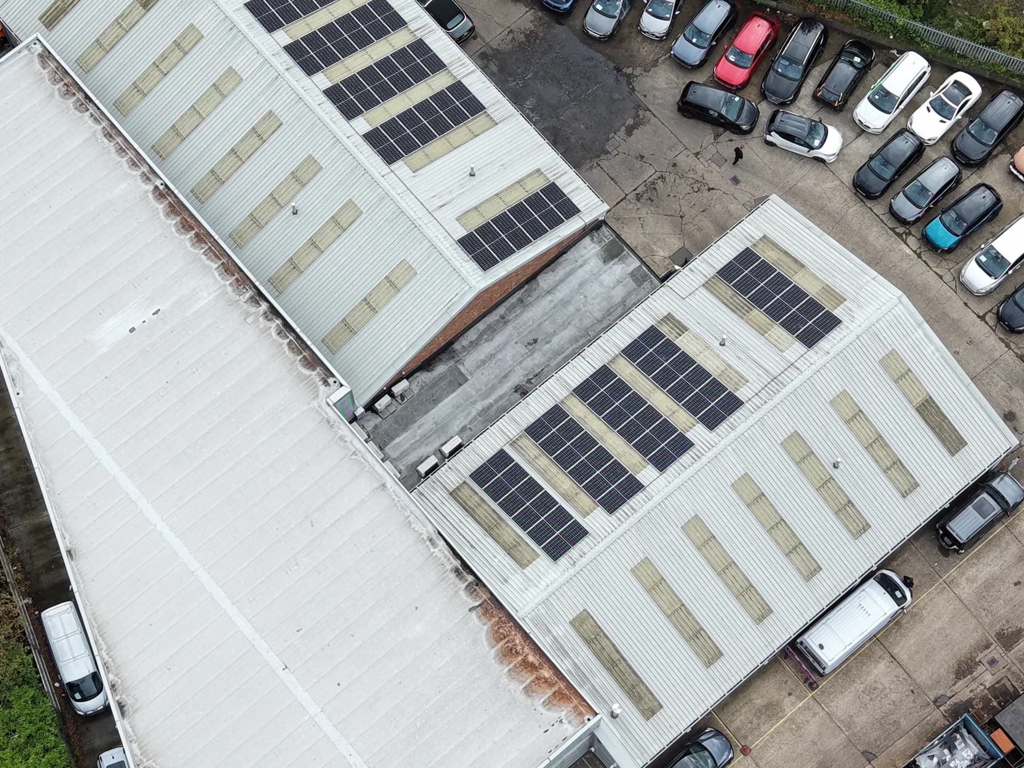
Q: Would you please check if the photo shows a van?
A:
Yes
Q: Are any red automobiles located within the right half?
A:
Yes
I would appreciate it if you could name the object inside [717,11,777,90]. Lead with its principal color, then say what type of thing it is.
red car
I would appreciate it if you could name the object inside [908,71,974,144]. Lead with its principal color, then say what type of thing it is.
white car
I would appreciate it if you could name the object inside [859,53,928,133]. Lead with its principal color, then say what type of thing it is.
white car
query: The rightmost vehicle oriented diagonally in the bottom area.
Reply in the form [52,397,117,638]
[939,472,1024,556]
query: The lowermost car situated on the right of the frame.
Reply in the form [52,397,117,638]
[664,730,734,768]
